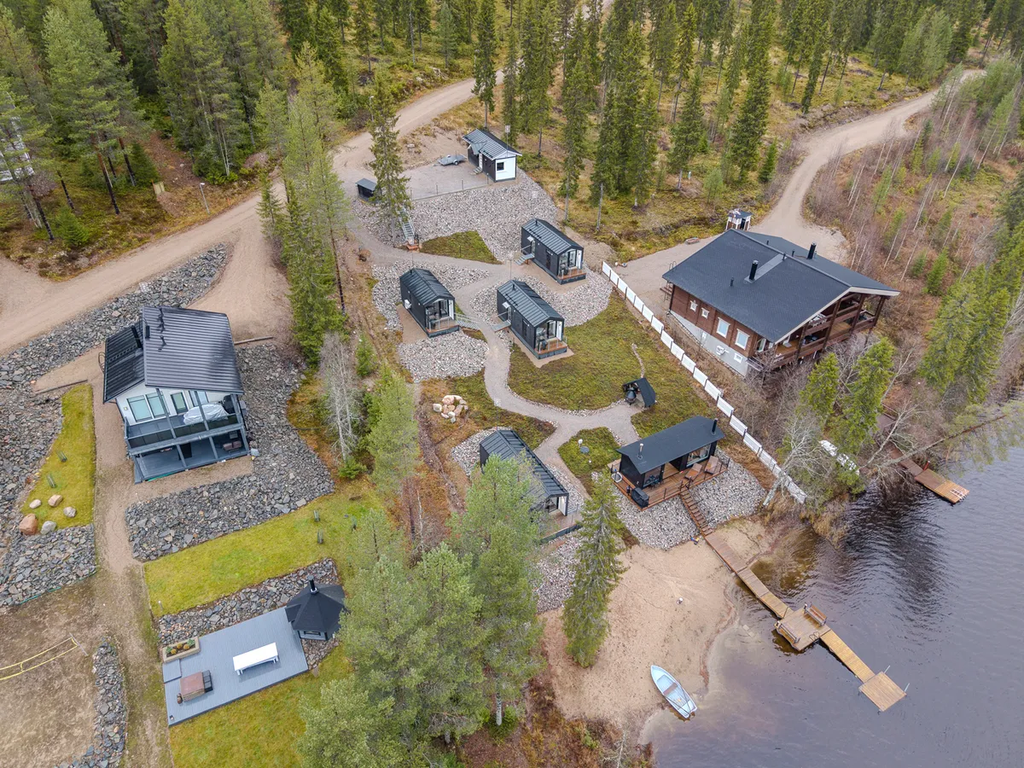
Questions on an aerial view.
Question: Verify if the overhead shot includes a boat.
Yes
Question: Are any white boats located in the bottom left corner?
No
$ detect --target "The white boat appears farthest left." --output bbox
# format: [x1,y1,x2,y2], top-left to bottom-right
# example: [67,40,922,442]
[652,663,701,717]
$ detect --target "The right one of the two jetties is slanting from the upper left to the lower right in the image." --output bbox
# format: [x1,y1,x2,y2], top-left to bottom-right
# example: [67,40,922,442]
[895,453,970,508]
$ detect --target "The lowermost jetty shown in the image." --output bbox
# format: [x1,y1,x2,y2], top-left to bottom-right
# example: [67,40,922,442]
[705,531,912,715]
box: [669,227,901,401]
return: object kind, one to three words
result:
house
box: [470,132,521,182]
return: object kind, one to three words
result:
building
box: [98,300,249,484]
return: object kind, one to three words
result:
house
